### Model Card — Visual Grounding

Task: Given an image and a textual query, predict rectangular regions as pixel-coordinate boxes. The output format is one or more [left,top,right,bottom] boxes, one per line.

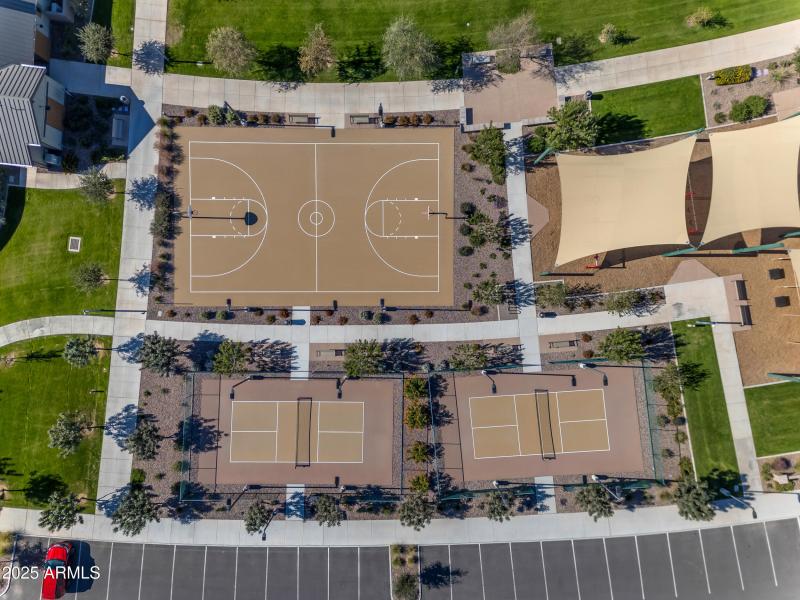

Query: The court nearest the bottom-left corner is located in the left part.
[198,380,393,484]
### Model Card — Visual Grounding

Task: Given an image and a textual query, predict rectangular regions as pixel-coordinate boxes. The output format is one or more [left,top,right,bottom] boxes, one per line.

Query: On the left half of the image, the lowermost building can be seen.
[0,65,63,166]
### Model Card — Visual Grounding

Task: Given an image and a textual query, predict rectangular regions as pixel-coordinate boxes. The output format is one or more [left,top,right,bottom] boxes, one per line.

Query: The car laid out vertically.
[45,545,75,599]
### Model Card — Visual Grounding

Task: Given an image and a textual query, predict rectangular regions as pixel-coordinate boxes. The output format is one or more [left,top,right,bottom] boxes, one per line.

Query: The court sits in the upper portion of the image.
[173,126,454,306]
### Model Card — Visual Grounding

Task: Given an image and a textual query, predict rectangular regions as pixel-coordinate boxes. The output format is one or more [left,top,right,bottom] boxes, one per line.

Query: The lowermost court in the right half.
[438,366,644,482]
